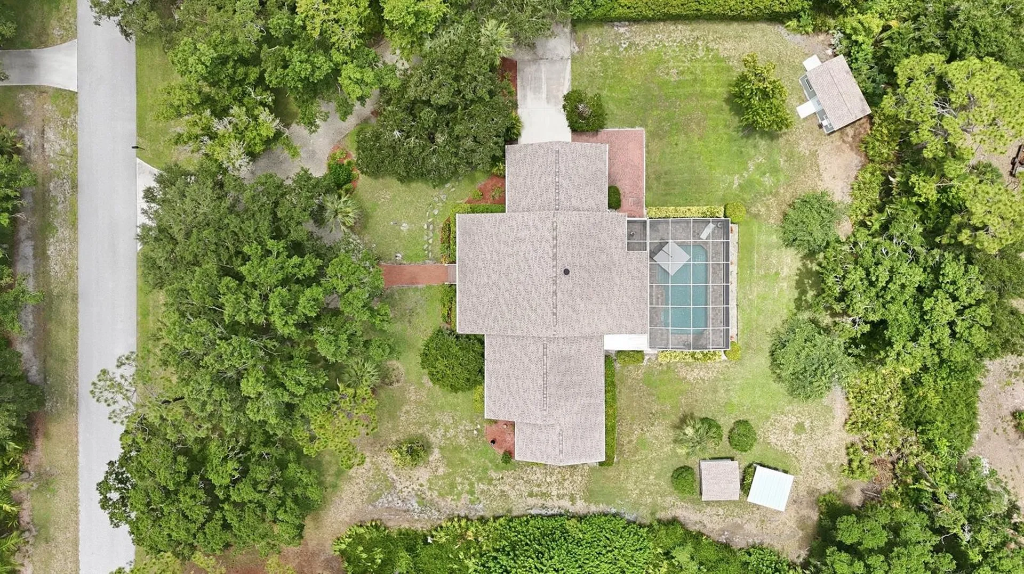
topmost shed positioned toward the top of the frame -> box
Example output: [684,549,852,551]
[798,53,872,133]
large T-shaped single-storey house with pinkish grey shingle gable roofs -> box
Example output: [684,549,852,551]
[456,140,650,464]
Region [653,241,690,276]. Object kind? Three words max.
umbrella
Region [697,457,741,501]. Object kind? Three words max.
shed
